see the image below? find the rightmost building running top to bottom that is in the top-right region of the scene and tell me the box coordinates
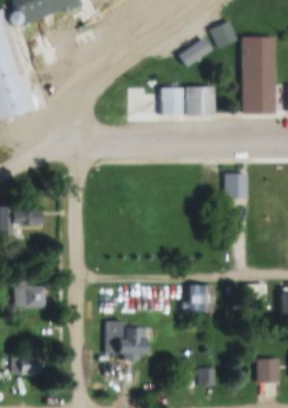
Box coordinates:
[240,36,277,112]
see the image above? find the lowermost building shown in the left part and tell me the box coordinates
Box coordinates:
[11,356,46,376]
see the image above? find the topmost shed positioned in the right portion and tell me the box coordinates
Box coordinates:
[208,20,238,49]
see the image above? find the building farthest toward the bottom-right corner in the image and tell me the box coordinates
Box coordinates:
[256,358,281,383]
